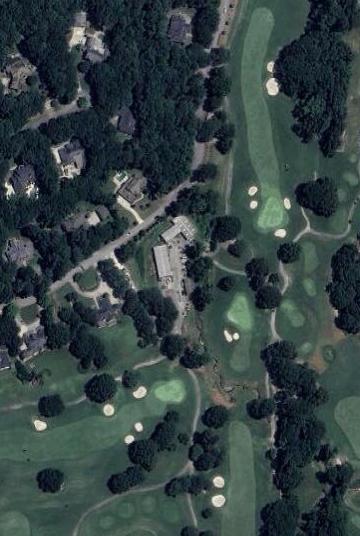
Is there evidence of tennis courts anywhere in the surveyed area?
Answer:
No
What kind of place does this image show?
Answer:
golf course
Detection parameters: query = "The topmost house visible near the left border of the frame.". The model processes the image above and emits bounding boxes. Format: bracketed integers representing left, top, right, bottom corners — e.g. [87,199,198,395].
[1,59,37,90]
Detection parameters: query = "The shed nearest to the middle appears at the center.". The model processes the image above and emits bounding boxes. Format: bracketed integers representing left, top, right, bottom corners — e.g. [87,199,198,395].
[154,244,173,278]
